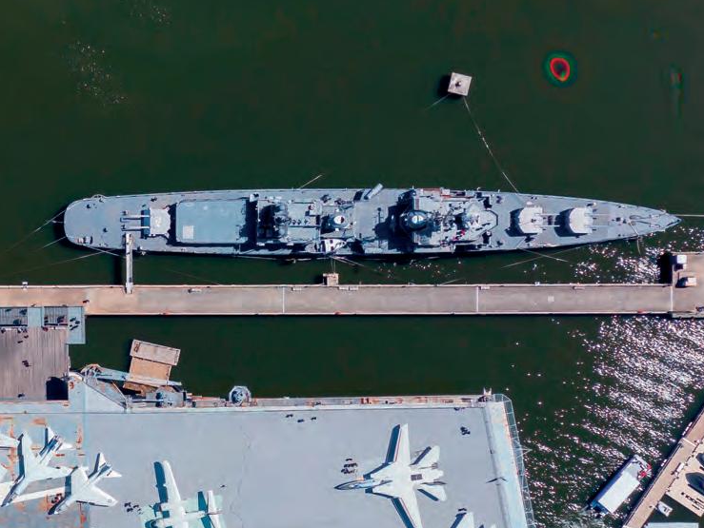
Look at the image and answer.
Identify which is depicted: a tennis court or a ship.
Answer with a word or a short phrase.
ship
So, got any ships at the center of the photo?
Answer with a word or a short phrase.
Yes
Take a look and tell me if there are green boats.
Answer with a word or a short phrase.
No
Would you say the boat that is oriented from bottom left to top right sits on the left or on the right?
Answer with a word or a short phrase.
right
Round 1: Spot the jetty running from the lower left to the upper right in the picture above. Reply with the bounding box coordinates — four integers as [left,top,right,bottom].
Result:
[624,407,704,528]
